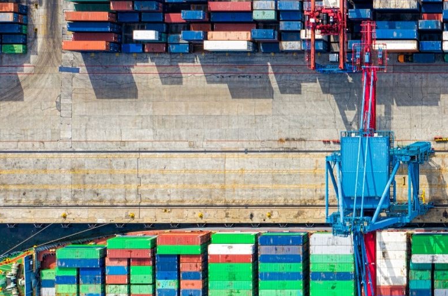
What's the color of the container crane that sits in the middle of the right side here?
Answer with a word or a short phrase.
blue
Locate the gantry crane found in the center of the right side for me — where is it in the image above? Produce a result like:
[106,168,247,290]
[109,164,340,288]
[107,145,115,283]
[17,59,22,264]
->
[324,20,436,296]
